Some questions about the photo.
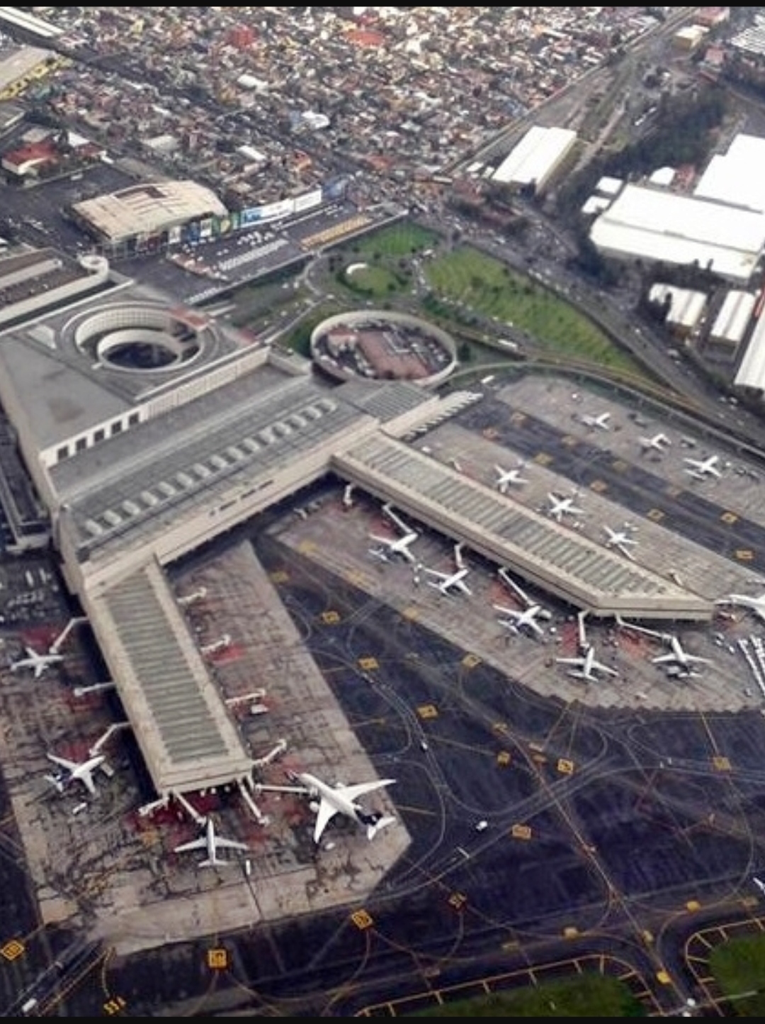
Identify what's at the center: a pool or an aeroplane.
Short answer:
aeroplane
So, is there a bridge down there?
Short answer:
Yes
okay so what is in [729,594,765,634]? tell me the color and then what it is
white airplane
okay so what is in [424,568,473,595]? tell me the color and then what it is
white airplane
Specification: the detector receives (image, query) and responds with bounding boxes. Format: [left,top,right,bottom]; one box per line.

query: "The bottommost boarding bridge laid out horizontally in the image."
[244,771,314,801]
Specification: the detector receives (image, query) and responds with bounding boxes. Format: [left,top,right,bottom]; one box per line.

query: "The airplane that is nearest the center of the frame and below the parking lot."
[369,536,417,561]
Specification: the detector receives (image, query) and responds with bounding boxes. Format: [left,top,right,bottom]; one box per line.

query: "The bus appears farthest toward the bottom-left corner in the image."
[18,991,39,1013]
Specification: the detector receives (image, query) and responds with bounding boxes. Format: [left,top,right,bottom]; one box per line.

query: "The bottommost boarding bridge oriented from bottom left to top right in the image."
[137,787,172,821]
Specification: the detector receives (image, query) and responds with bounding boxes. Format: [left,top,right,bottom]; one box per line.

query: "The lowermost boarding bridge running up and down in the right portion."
[577,608,590,652]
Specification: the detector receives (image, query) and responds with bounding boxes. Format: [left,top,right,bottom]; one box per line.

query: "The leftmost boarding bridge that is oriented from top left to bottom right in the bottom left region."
[172,786,209,827]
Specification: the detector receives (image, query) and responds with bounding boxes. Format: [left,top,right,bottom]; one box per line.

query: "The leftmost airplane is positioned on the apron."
[9,653,64,679]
